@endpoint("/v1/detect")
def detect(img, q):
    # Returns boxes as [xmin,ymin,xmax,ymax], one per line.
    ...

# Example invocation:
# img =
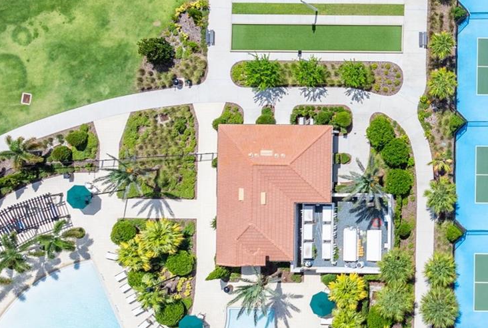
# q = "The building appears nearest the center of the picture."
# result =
[218,124,333,267]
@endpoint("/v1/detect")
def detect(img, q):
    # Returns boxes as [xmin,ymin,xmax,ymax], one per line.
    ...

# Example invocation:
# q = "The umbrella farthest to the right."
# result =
[311,292,335,316]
